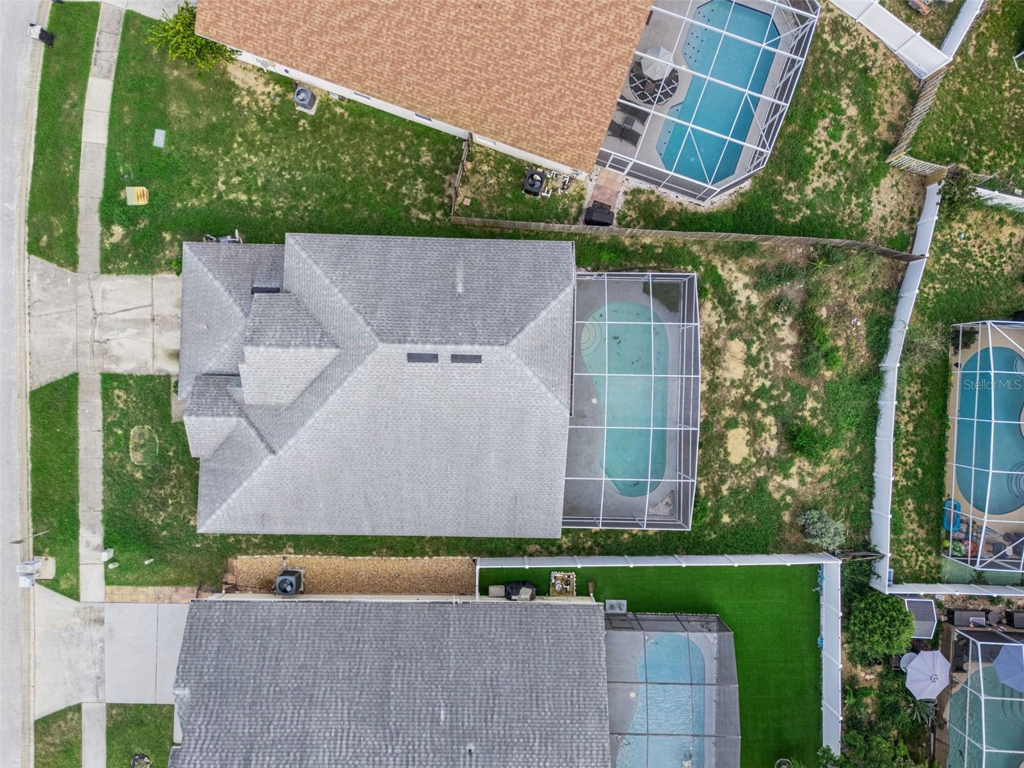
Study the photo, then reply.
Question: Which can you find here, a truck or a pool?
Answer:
pool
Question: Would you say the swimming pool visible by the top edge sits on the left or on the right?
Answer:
right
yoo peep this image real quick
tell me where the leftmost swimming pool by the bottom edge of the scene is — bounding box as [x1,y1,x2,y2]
[613,632,709,768]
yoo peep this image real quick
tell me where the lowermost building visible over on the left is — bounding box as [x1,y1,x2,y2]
[168,588,611,768]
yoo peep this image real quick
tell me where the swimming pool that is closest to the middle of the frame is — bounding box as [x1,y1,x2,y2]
[577,298,673,500]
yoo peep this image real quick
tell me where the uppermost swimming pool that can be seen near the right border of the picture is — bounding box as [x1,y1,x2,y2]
[988,343,1023,518]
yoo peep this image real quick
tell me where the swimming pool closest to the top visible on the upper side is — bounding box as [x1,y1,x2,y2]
[653,0,784,187]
